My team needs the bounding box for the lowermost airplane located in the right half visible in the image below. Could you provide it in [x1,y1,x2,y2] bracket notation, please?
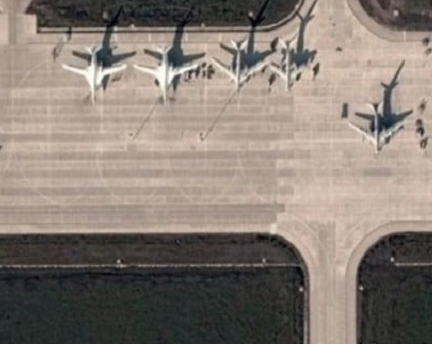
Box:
[349,103,405,158]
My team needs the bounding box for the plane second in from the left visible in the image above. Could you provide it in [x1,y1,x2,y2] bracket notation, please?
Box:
[133,47,195,105]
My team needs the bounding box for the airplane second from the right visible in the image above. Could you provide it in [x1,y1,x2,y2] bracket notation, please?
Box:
[271,39,305,91]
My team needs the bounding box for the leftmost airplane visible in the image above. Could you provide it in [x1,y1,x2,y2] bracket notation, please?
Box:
[63,48,126,105]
